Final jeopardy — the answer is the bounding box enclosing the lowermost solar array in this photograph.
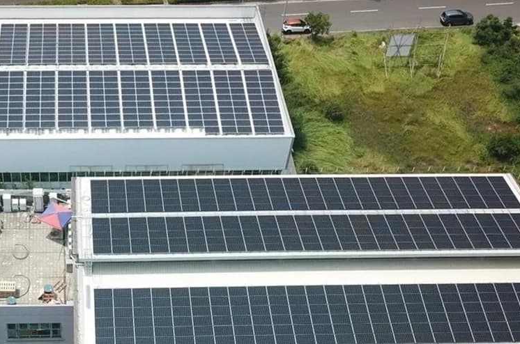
[94,283,520,344]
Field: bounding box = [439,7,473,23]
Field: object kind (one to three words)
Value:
car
